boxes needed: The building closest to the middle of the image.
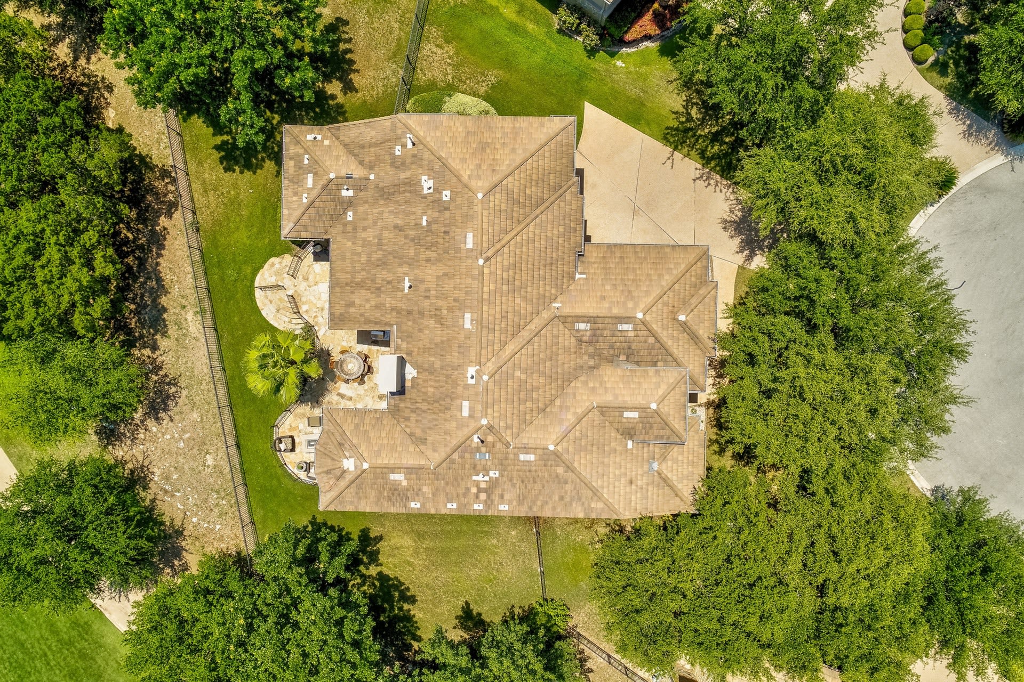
[280,112,720,519]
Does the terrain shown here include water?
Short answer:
No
